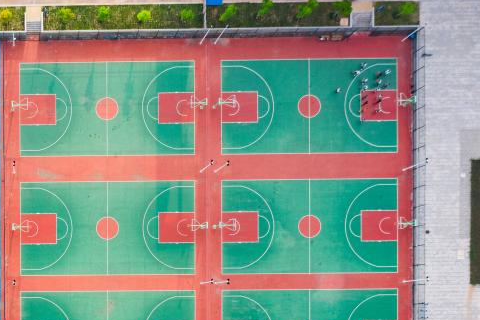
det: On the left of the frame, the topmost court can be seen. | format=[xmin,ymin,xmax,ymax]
[20,60,195,157]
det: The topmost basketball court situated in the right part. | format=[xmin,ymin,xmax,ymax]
[221,58,398,154]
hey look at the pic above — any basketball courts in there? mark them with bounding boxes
[221,178,398,274]
[221,58,398,154]
[20,60,195,157]
[20,290,196,320]
[221,289,398,320]
[20,179,196,276]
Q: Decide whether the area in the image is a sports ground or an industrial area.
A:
sports ground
